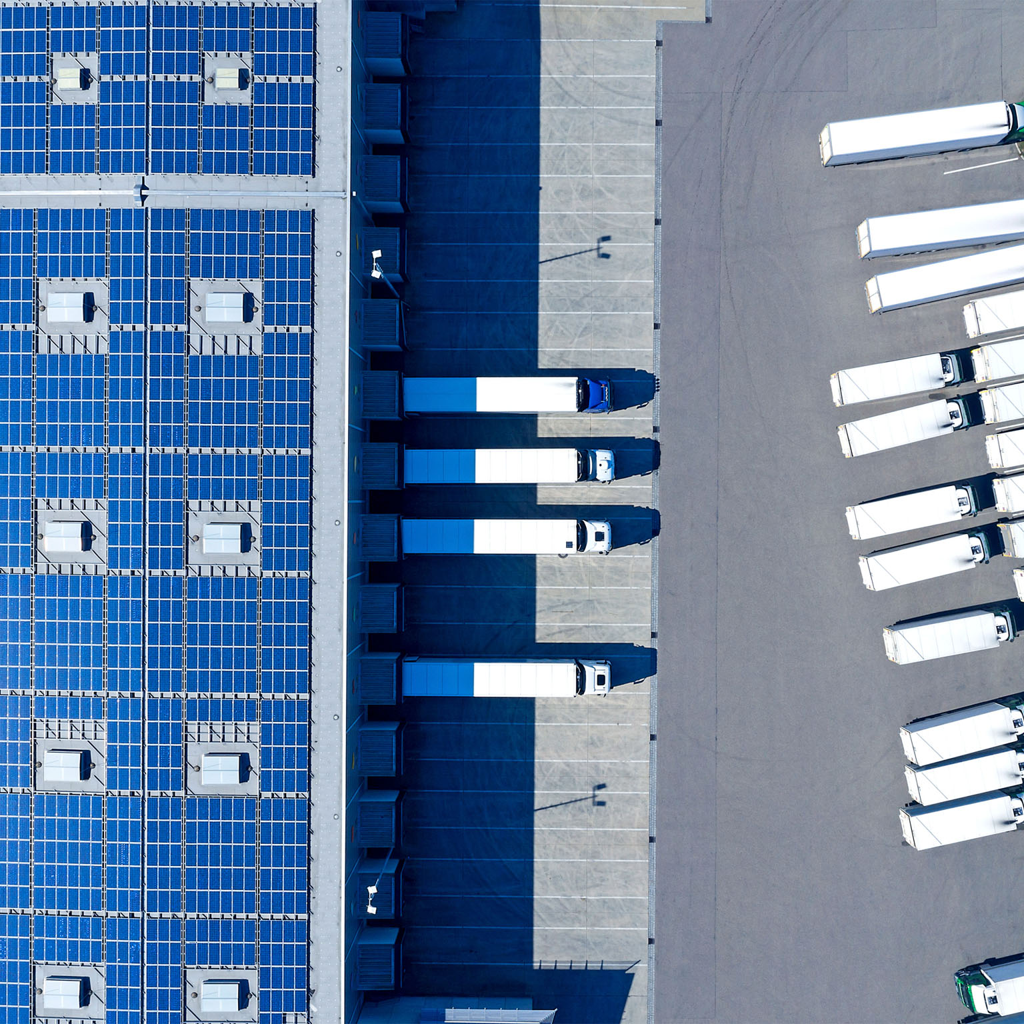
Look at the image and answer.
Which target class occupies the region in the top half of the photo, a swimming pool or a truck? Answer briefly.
truck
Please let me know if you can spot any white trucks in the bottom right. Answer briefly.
Yes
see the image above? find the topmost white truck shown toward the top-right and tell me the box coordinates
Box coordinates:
[818,100,1024,166]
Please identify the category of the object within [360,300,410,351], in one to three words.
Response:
house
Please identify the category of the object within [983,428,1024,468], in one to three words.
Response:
truck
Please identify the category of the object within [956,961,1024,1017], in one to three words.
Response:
truck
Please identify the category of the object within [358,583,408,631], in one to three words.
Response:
house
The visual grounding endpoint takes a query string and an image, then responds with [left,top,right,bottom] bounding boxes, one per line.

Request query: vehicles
[880,604,1015,665]
[835,392,970,458]
[971,337,1024,381]
[903,741,1024,806]
[991,473,1024,511]
[962,1010,1024,1024]
[996,518,1024,557]
[818,100,1024,166]
[896,783,1024,850]
[403,446,613,487]
[401,657,612,698]
[956,961,1024,1017]
[843,479,978,539]
[404,375,613,416]
[856,198,1024,258]
[827,348,962,407]
[403,516,613,556]
[983,428,1024,468]
[897,696,1024,766]
[856,525,992,591]
[979,381,1024,422]
[865,243,1024,313]
[960,292,1024,338]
